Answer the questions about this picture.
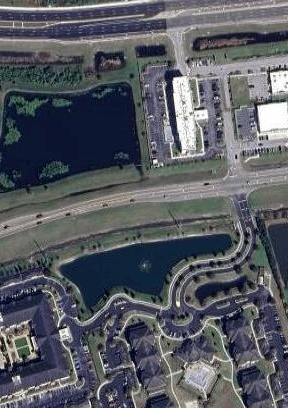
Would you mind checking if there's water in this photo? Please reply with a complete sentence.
Yes, water can be seen from above here.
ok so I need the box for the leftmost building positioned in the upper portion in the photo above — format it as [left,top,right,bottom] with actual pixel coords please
[174,76,198,158]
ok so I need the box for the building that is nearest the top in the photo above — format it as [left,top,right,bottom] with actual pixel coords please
[270,70,288,96]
